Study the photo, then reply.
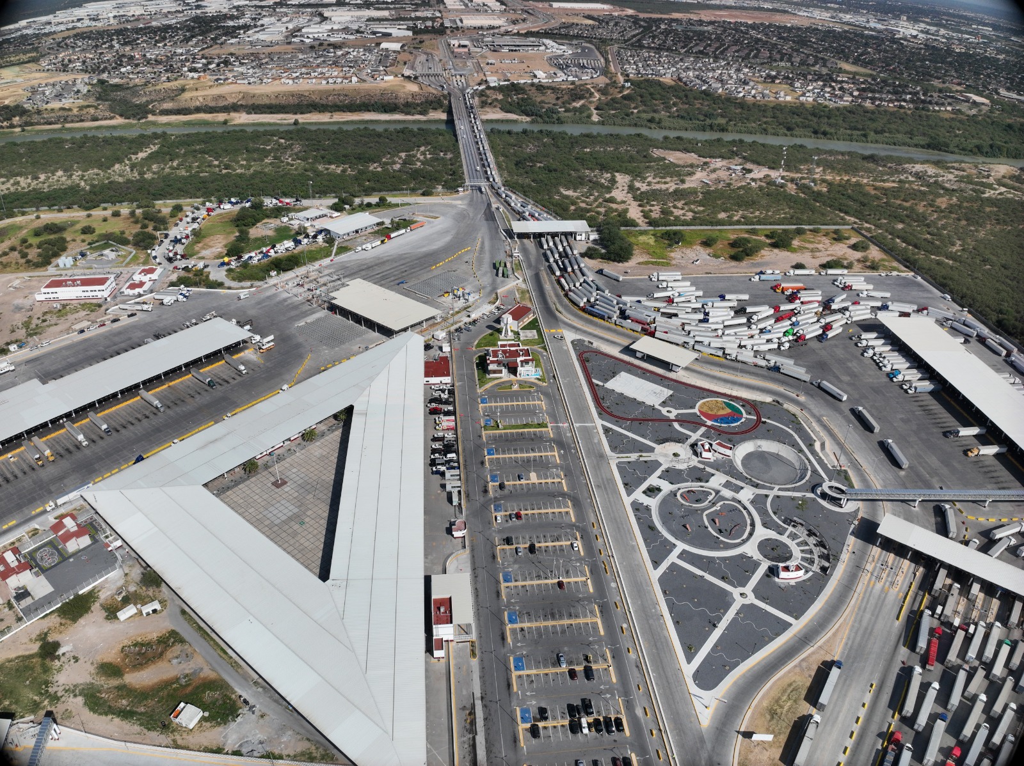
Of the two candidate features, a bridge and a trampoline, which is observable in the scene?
bridge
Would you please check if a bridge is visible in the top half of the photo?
Yes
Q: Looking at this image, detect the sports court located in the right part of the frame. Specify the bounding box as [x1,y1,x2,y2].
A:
[606,371,673,405]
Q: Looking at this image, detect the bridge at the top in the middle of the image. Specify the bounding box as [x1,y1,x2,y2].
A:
[450,86,501,187]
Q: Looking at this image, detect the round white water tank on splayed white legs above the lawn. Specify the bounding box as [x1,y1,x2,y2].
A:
[498,318,515,344]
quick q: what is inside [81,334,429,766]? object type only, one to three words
building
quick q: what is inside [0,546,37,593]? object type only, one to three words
building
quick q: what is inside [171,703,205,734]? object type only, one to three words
house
